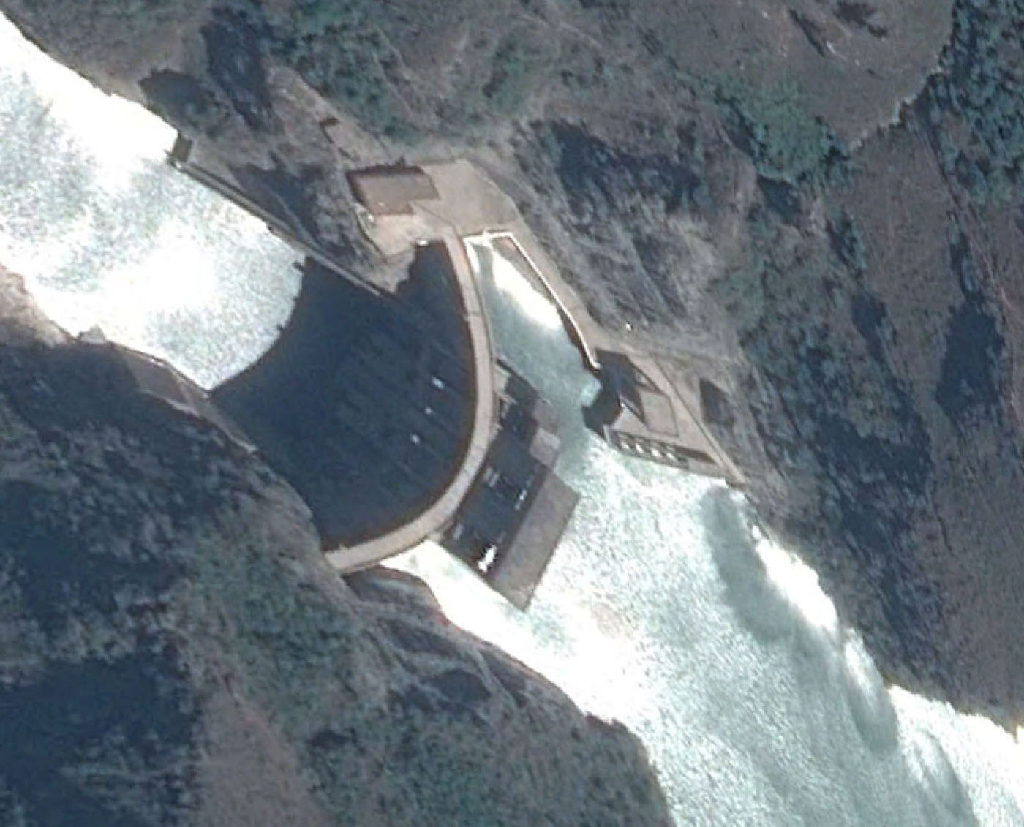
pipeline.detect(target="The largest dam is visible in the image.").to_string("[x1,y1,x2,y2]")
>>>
[258,228,496,572]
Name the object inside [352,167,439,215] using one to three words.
building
